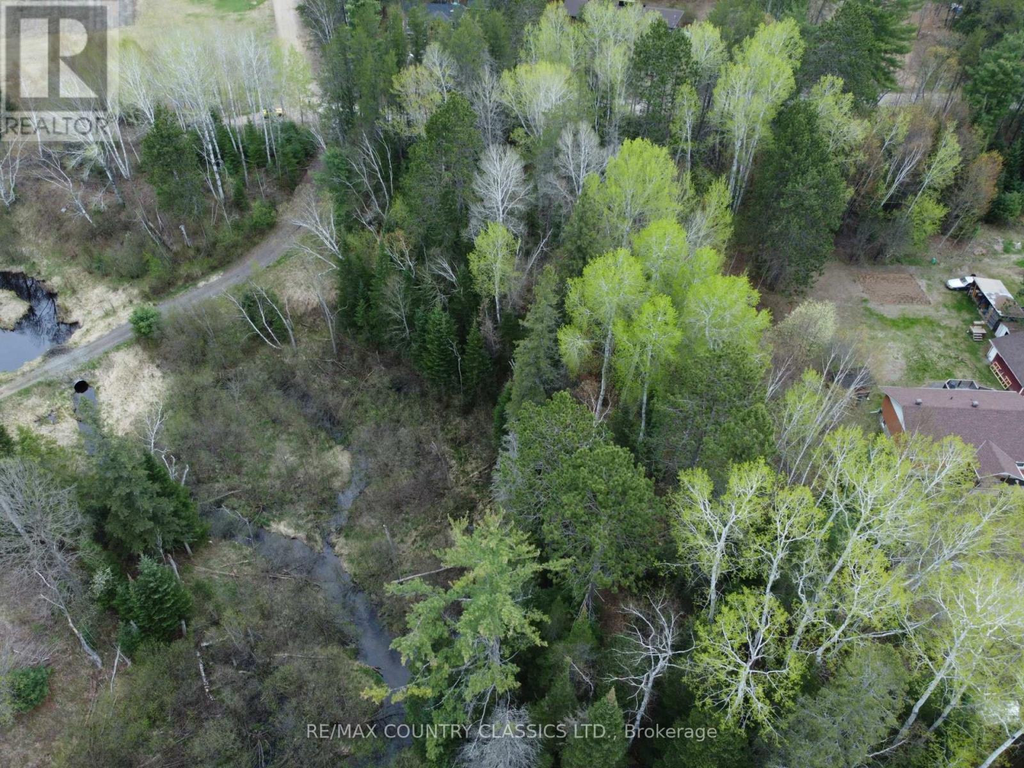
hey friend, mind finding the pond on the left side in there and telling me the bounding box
[0,270,80,369]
